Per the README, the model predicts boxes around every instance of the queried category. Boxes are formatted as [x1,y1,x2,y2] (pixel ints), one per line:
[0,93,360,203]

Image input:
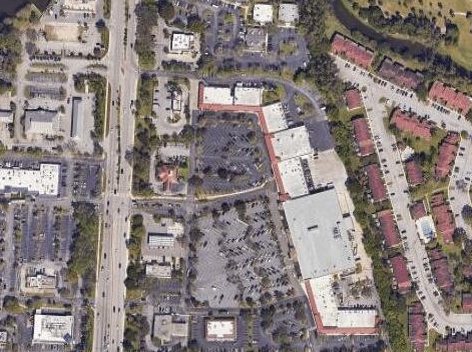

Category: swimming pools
[417,217,436,240]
